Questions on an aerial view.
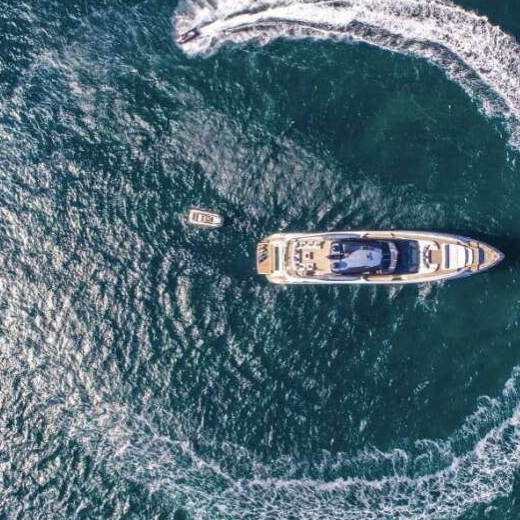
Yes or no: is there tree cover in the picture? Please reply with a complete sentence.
No, there is no tree cover in the image.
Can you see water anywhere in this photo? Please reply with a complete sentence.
Yes, water can be seen from above here.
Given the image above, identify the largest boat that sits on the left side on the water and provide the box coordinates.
[189,210,222,226]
